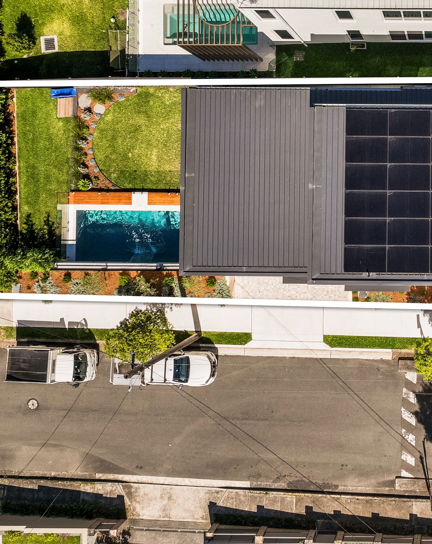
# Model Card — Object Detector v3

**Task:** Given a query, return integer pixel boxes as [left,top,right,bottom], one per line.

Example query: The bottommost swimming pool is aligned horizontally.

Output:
[77,211,180,263]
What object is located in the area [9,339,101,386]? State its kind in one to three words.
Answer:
truck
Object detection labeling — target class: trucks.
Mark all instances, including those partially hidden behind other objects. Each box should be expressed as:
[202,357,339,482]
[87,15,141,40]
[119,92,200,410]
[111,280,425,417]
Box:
[111,346,220,391]
[9,339,101,386]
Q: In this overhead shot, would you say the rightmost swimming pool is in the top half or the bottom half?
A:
top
